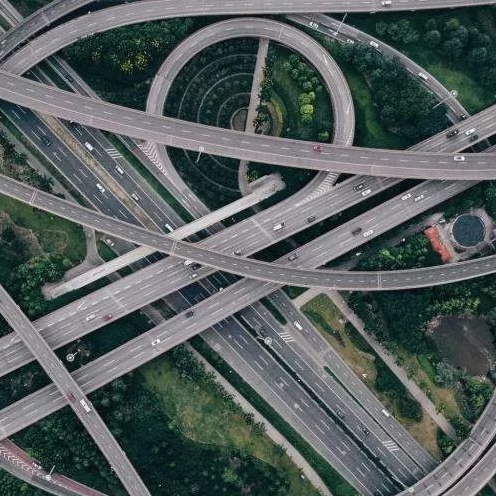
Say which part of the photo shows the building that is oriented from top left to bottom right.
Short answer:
right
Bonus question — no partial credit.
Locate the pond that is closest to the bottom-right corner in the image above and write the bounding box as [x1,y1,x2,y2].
[426,314,495,377]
